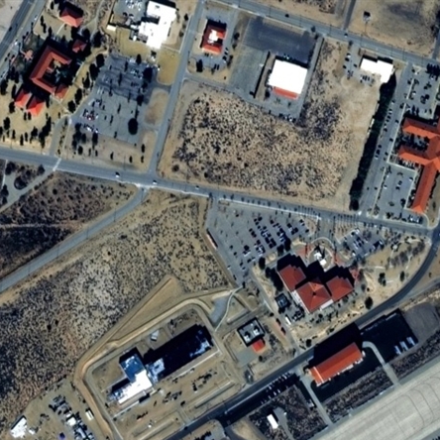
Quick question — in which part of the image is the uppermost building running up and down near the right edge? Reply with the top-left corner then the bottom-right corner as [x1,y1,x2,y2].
[399,118,440,214]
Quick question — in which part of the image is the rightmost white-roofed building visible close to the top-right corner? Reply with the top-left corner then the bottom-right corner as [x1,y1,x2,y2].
[360,58,395,83]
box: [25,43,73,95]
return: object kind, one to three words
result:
building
